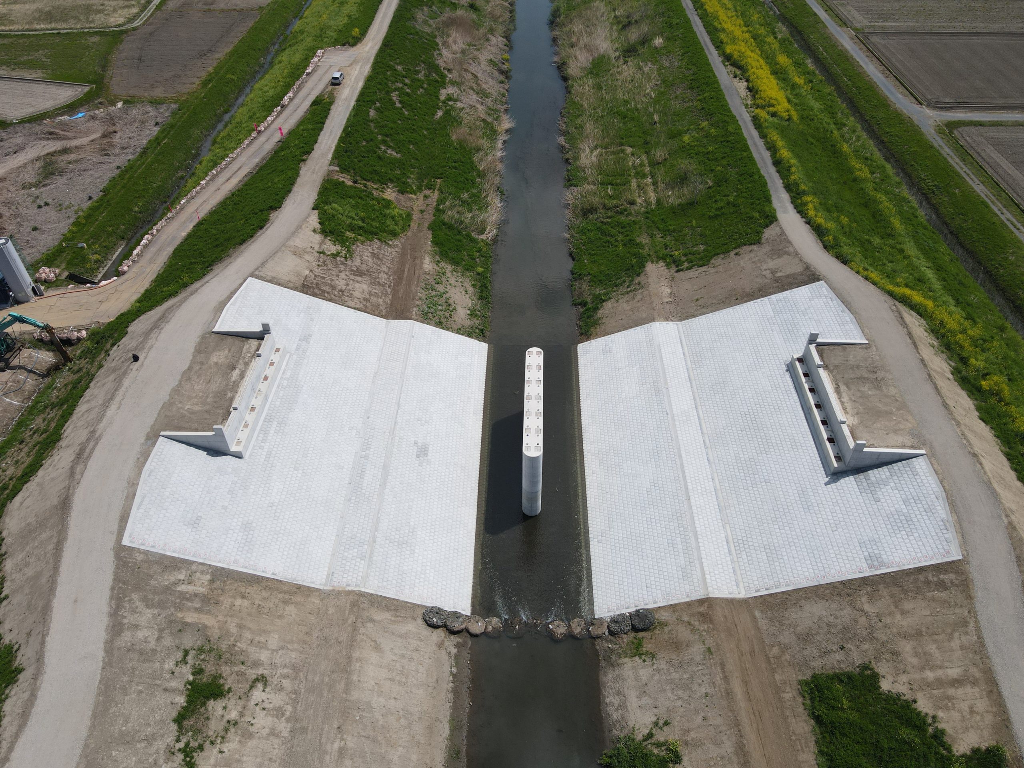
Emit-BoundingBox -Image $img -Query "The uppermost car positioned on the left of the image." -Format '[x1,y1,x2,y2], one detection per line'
[330,71,344,84]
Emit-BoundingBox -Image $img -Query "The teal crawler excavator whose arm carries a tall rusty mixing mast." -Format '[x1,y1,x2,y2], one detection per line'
[0,308,75,369]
